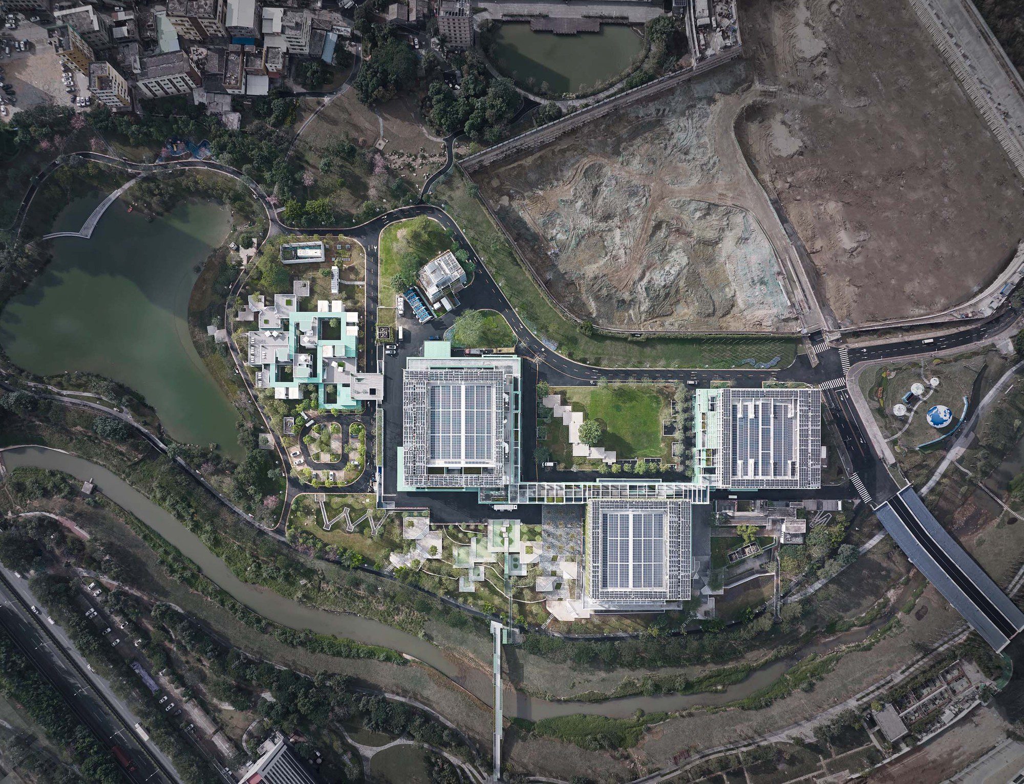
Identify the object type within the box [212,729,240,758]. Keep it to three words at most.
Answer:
shed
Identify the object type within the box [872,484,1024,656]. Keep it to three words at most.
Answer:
bridge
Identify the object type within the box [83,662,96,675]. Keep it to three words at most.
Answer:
vehicle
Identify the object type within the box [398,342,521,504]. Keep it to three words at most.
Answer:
building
